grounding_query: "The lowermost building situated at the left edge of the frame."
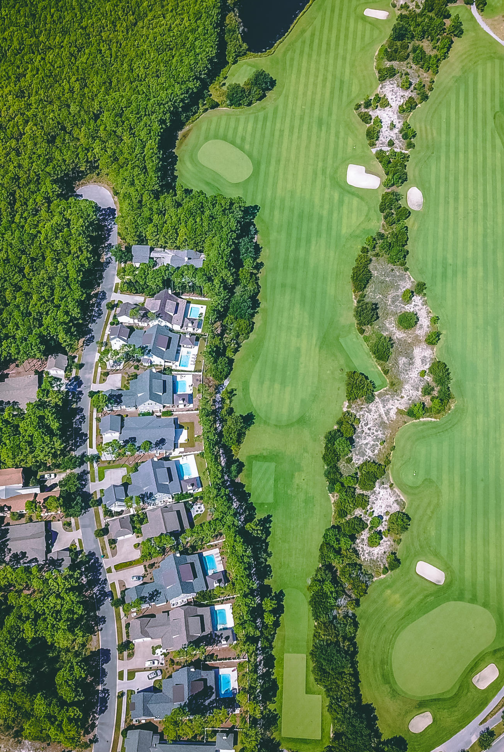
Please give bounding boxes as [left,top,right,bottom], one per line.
[3,518,72,573]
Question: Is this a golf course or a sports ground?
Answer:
golf course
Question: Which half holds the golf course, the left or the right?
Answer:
right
